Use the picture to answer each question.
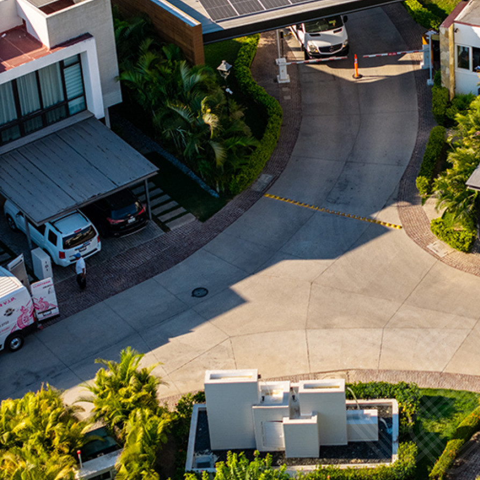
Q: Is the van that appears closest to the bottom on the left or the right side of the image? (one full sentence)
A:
It is on the left.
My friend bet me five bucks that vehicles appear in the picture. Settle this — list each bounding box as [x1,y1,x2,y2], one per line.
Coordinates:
[2,202,101,267]
[306,17,353,58]
[78,188,147,237]
[0,268,56,364]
